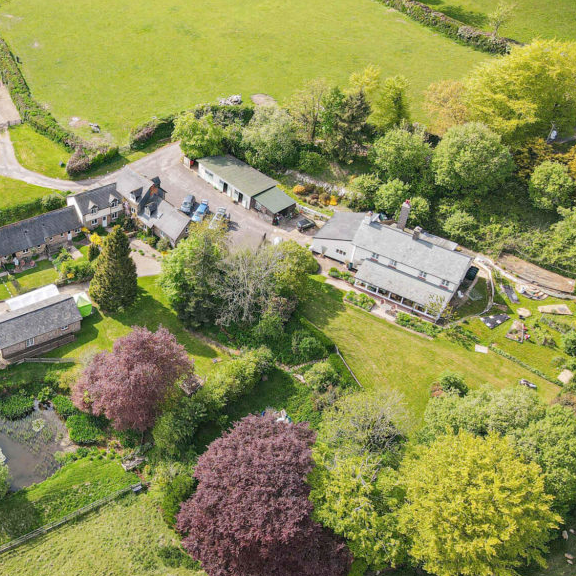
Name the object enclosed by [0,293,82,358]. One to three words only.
barn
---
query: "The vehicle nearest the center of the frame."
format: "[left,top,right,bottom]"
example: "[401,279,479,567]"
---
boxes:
[294,210,320,231]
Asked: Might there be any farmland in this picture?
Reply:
Yes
